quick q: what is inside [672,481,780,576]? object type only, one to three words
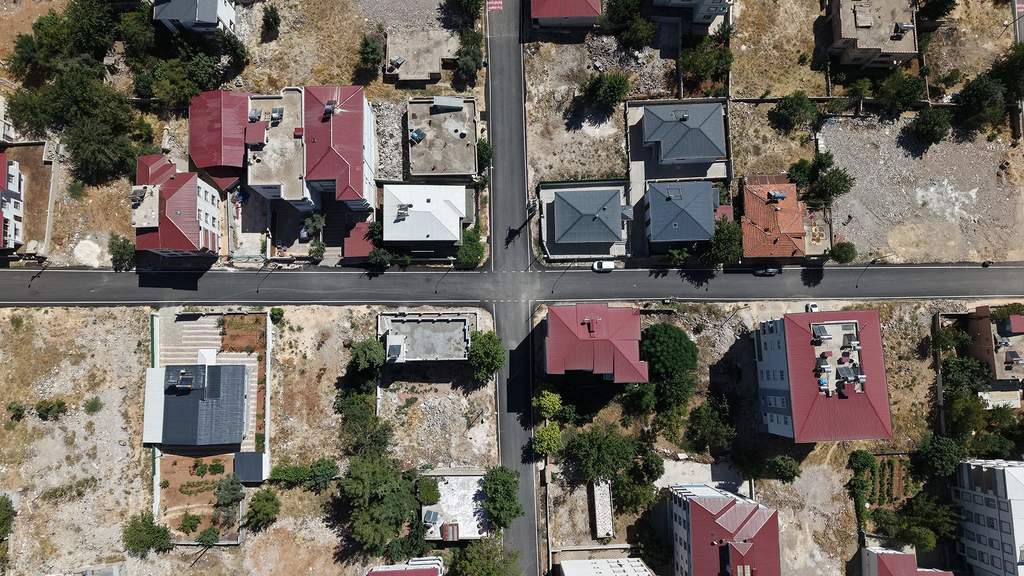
building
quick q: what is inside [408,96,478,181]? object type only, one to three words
house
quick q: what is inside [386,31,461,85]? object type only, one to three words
building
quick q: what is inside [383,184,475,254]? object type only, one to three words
house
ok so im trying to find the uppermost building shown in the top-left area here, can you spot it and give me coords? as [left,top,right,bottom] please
[153,0,234,42]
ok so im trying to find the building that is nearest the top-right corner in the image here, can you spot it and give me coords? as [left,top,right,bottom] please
[825,0,919,69]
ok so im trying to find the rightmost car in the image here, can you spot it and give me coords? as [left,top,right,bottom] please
[806,300,819,313]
